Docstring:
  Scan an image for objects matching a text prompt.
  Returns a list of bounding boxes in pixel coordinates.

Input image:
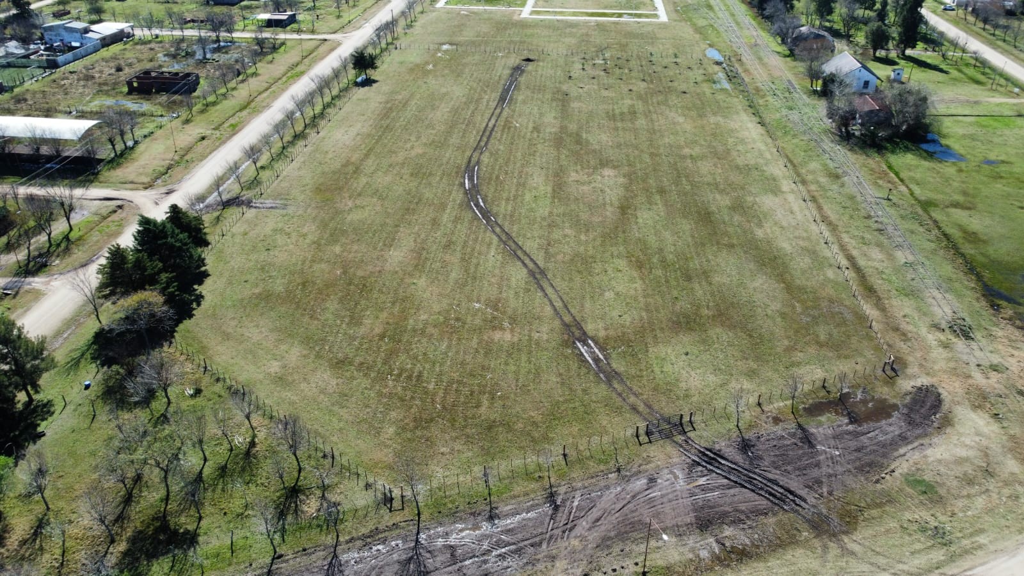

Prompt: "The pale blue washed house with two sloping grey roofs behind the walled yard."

[32,17,102,45]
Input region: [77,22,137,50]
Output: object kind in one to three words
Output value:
building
